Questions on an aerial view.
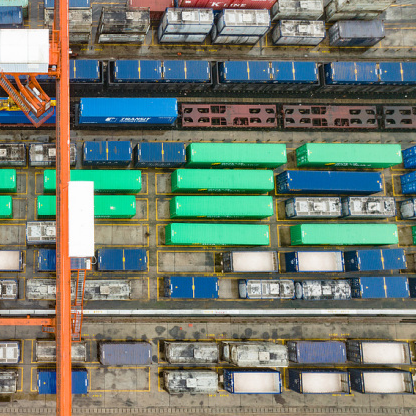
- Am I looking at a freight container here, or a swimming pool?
freight container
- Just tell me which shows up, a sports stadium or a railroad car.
railroad car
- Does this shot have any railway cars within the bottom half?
No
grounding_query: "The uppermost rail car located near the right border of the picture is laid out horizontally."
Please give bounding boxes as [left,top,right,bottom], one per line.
[316,61,416,92]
